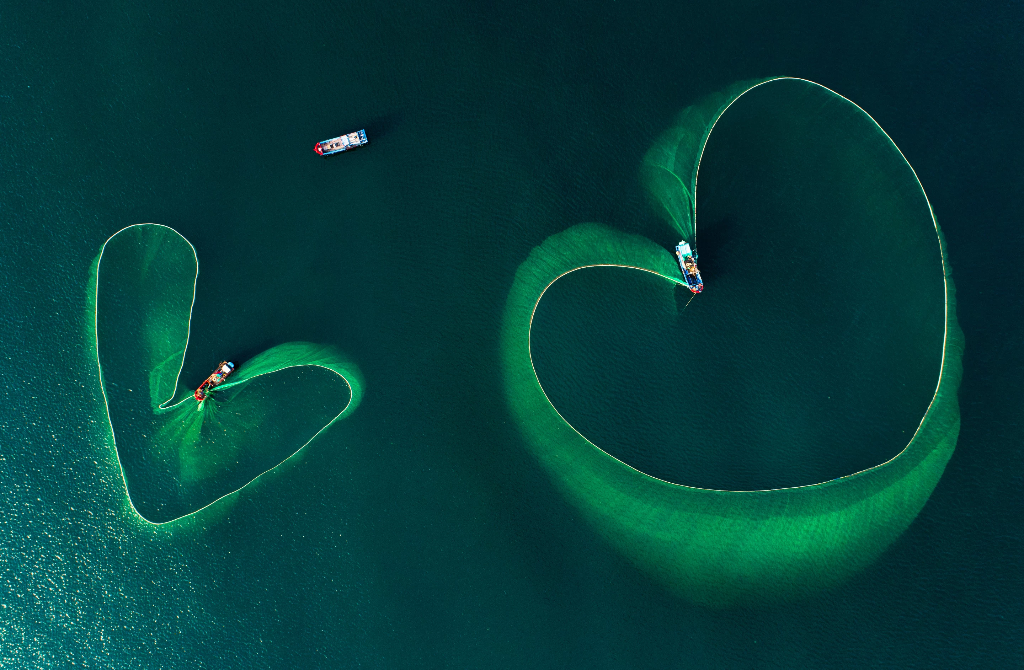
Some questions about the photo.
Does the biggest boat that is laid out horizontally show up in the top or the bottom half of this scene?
top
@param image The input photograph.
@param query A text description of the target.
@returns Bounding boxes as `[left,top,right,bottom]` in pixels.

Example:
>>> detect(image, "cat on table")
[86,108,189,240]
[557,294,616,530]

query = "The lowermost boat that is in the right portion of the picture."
[676,243,703,308]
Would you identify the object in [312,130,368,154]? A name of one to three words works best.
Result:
boat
